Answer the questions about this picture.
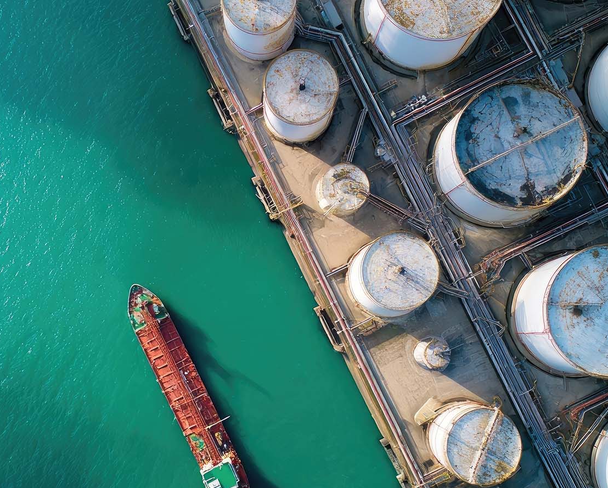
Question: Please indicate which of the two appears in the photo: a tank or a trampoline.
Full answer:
Looking from above, you can make out a tank.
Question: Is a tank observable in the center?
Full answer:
Yes, in the center there is a tank.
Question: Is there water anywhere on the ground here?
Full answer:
Yes, there is water in the image.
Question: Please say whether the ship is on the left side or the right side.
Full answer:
You can find the ship on the left side of the picture.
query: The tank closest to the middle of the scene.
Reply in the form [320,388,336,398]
[300,162,370,235]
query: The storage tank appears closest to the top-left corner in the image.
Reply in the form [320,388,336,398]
[213,0,296,73]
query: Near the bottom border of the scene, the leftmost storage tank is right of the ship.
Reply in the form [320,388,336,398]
[417,387,523,487]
